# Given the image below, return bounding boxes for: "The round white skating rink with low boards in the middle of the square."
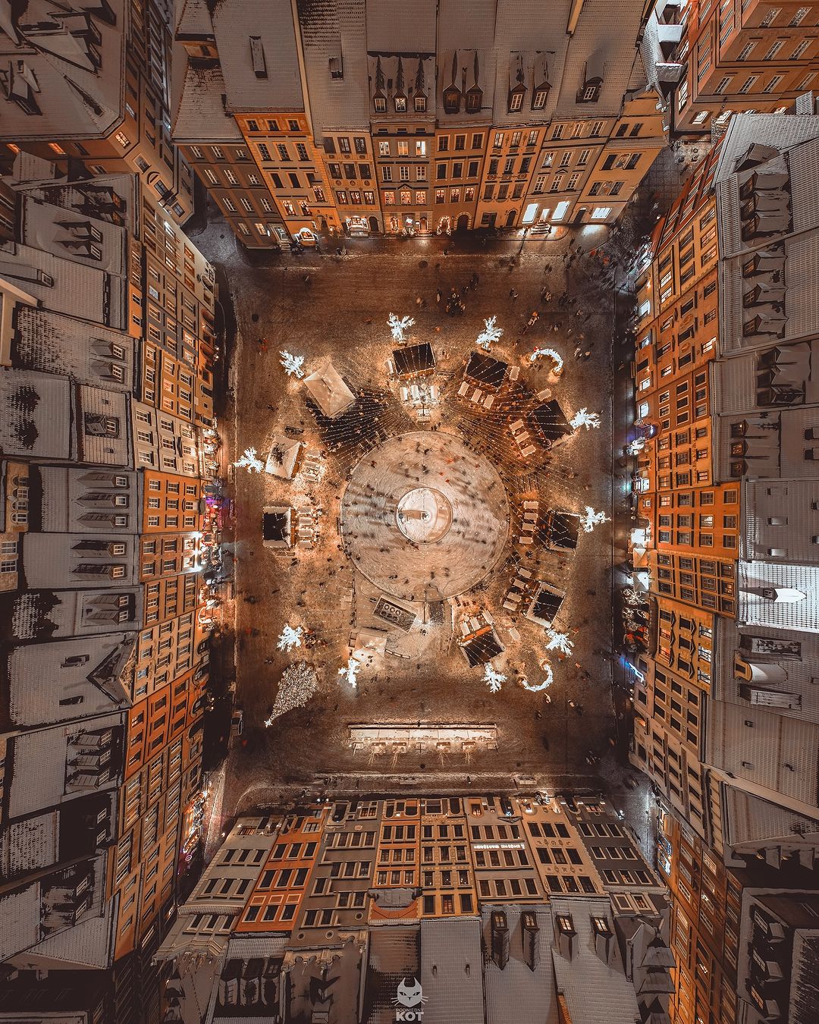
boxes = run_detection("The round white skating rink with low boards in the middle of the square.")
[336,428,513,604]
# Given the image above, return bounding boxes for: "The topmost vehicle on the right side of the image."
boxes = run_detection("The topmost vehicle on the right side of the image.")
[625,767,647,796]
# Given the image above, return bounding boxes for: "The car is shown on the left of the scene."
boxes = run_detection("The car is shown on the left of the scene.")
[228,709,244,738]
